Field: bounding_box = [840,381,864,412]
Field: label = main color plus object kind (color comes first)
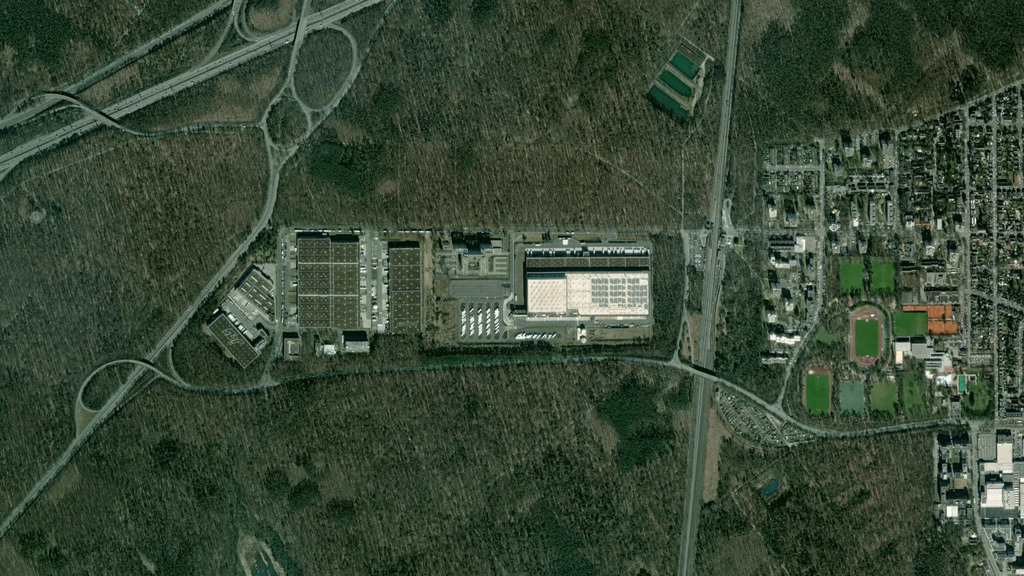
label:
green soccer field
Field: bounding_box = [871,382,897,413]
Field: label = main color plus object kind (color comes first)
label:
green soccer field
